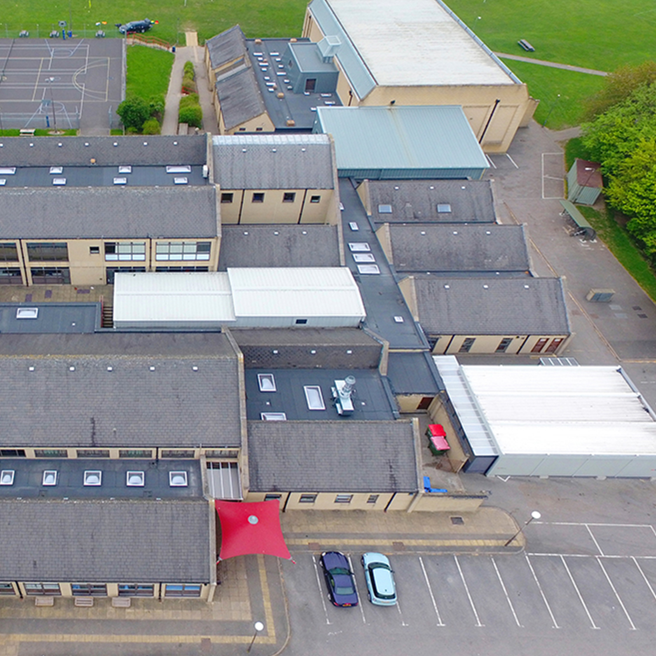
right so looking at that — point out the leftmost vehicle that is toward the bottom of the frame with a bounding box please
[321,554,358,609]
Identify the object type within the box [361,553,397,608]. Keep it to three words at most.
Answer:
car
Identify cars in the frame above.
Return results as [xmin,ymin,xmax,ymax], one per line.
[321,554,358,609]
[361,553,397,608]
[119,14,156,33]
